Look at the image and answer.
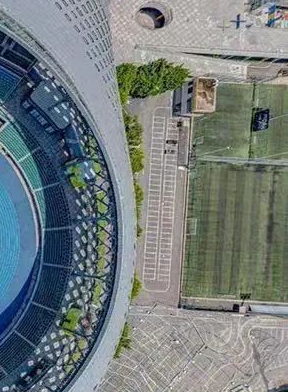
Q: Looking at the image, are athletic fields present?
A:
Yes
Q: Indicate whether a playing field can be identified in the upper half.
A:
Yes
